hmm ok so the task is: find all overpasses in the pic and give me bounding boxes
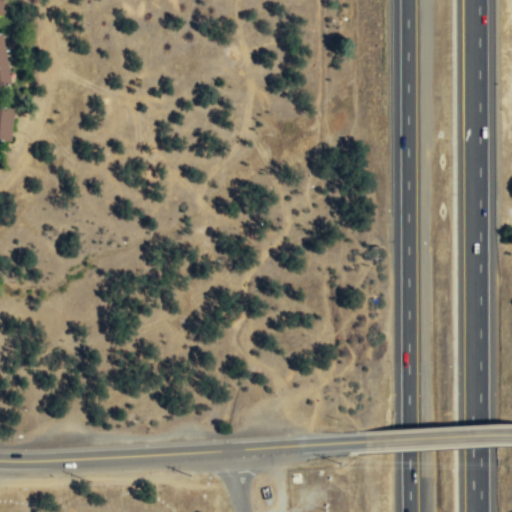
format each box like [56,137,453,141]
[349,424,512,454]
